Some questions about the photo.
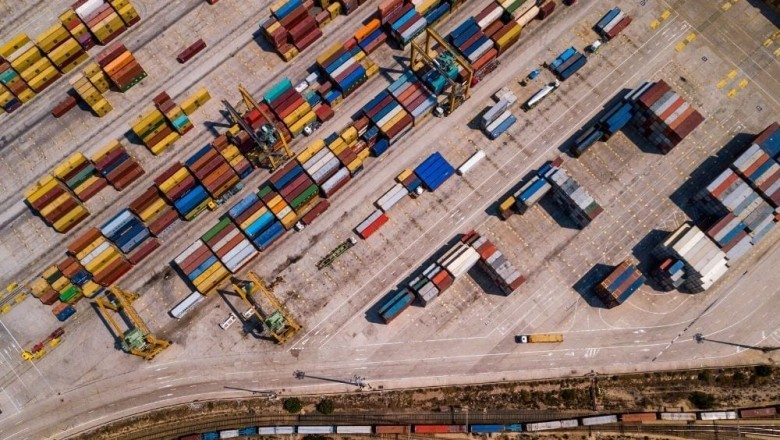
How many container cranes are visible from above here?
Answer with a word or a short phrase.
4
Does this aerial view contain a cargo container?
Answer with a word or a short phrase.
Yes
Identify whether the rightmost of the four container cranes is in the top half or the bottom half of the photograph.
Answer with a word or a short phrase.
top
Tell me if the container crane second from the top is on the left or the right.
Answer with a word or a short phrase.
left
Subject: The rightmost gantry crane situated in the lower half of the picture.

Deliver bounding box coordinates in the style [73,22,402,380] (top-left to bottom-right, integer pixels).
[229,265,303,346]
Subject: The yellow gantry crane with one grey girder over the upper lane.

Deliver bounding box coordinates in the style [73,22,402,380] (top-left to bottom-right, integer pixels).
[220,83,296,172]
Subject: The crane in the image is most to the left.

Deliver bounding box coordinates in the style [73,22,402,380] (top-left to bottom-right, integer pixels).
[88,280,173,362]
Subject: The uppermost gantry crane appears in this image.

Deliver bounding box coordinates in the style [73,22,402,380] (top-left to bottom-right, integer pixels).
[408,24,480,113]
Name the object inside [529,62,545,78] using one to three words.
vehicle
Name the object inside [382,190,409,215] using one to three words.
shipping container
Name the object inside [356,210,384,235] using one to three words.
shipping container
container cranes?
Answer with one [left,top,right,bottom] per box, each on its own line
[220,83,296,172]
[408,24,480,113]
[229,265,303,346]
[88,280,173,362]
